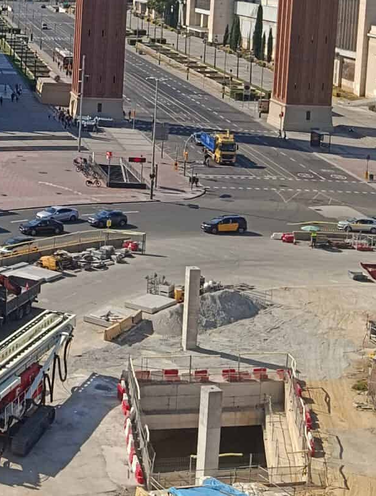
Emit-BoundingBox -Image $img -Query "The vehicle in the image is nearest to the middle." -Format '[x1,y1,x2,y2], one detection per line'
[200,211,249,233]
